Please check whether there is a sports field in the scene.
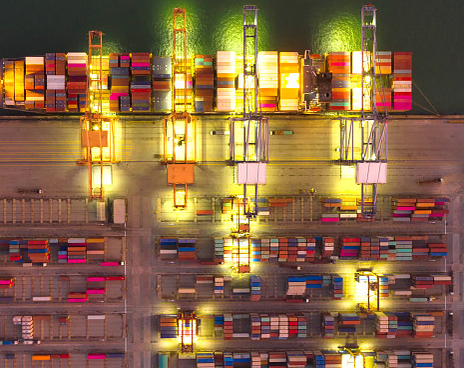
No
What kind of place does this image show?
port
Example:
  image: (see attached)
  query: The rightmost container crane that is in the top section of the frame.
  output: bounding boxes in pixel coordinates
[334,5,392,218]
